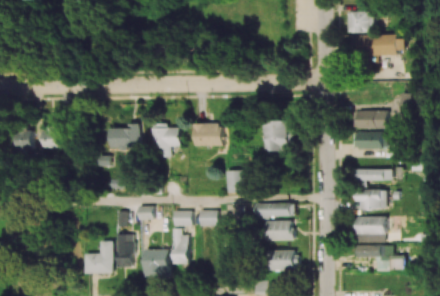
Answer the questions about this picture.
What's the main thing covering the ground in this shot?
trees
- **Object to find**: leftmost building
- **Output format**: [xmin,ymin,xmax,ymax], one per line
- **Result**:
[12,130,36,148]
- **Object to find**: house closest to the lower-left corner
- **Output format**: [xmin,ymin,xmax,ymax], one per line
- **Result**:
[84,242,114,275]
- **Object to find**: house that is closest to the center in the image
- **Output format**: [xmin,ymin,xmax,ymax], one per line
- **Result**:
[192,124,224,148]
